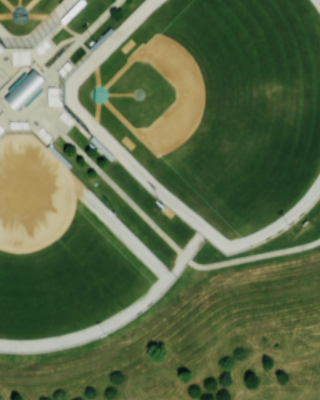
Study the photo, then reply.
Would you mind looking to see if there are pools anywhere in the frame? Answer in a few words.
No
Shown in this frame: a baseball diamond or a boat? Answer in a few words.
baseball diamond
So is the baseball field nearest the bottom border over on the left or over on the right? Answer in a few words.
left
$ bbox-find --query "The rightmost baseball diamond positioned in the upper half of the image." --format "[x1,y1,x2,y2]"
[65,0,320,256]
